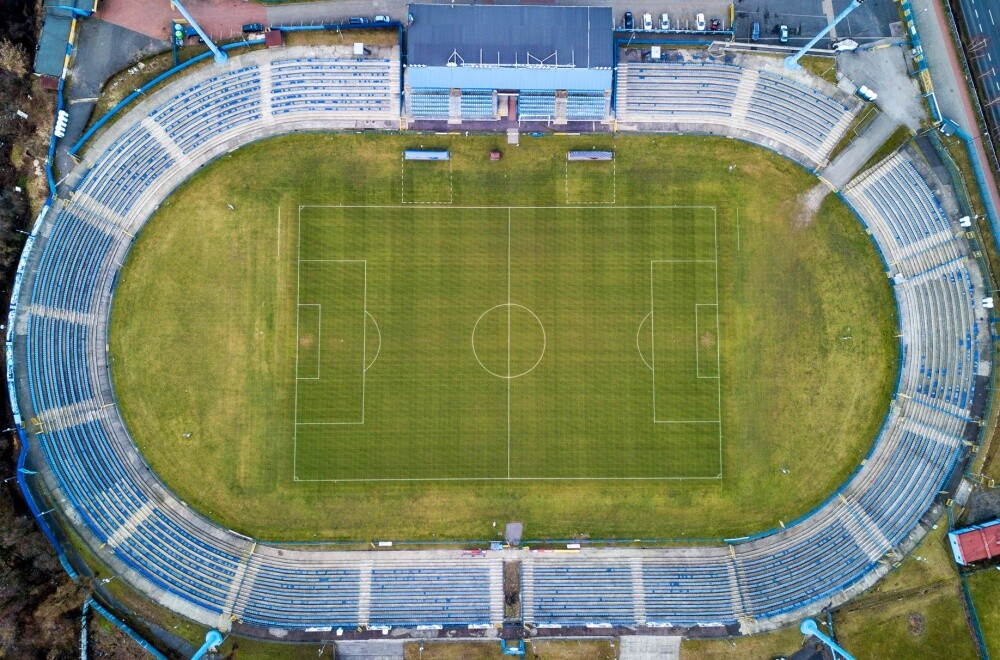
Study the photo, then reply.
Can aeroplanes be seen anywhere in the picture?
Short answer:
No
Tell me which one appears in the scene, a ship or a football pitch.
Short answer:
football pitch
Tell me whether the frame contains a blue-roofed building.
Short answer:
Yes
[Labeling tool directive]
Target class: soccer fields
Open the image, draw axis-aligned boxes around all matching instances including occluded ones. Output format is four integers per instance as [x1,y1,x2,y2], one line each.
[278,153,739,488]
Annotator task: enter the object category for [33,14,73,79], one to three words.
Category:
building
